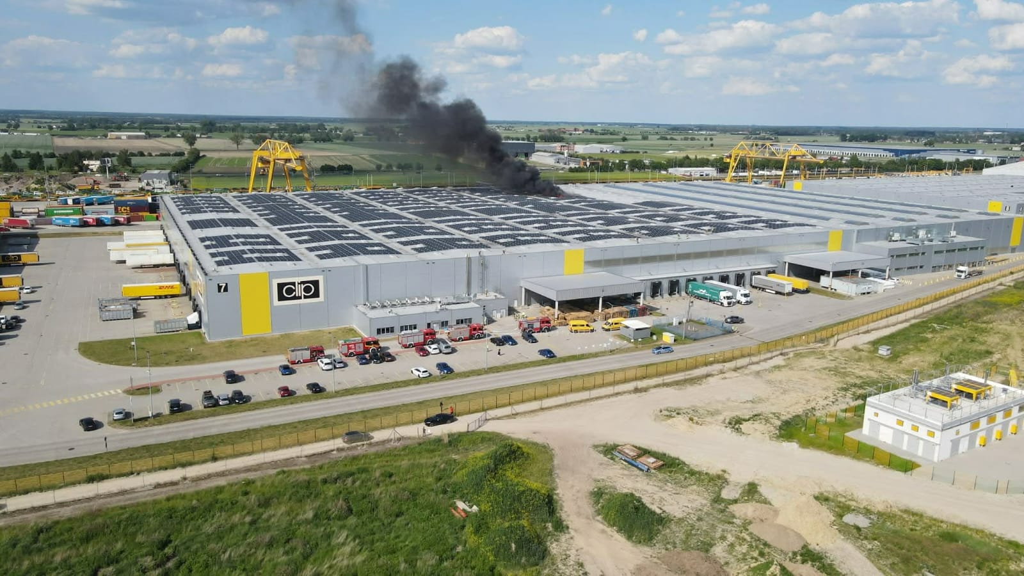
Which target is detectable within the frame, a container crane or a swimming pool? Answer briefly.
container crane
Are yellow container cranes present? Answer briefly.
Yes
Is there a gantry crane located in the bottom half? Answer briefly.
No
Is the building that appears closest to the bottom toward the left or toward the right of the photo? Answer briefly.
right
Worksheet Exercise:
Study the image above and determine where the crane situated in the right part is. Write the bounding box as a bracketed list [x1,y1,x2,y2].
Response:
[735,138,822,180]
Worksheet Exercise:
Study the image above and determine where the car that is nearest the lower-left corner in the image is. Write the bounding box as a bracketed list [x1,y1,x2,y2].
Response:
[77,415,100,431]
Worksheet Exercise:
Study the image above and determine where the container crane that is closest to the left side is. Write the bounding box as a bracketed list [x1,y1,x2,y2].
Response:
[247,138,313,192]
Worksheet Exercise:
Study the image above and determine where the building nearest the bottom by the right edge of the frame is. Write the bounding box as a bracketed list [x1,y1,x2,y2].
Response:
[859,364,1024,463]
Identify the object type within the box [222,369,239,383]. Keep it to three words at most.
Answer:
car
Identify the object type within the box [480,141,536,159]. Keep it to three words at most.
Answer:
building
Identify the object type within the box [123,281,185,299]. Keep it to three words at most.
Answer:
trailer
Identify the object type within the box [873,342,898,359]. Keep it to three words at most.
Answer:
shed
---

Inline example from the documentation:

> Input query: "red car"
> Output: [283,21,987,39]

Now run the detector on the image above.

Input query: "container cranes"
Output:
[247,138,313,192]
[735,138,822,180]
